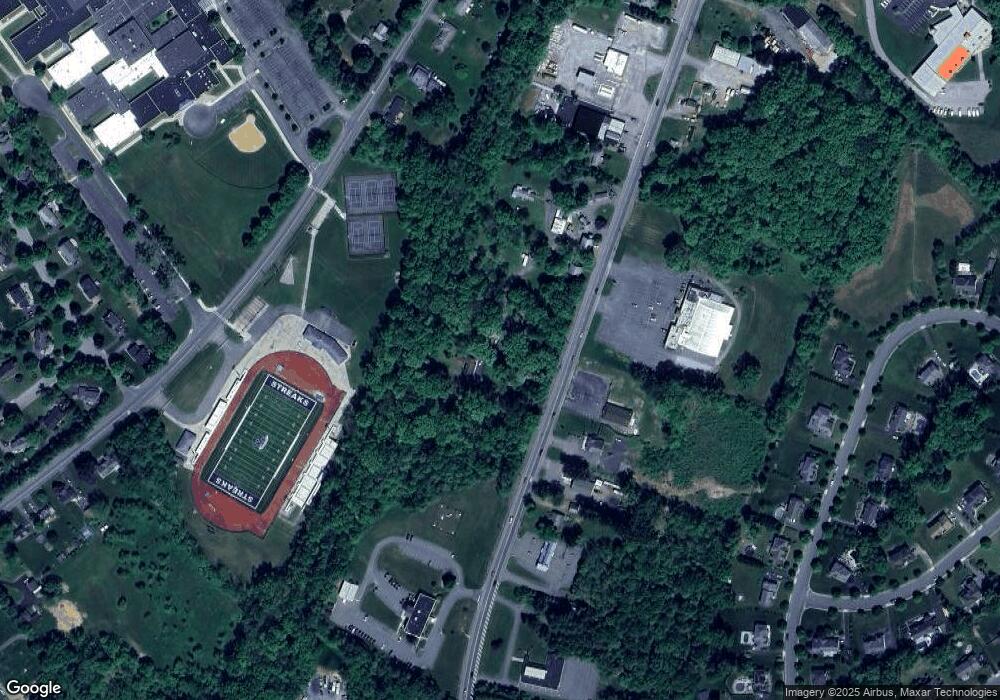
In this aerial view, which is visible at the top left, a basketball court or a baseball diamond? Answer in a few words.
baseball diamond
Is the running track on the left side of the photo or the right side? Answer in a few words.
left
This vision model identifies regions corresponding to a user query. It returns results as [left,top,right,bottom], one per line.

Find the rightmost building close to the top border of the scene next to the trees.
[913,4,993,97]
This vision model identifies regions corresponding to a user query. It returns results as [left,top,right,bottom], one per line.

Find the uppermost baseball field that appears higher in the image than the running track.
[229,114,266,154]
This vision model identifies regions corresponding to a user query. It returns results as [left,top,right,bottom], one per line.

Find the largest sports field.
[201,370,323,513]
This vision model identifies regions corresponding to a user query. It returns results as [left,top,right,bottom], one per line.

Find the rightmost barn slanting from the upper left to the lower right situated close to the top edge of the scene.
[783,6,833,54]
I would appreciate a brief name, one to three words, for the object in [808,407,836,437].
house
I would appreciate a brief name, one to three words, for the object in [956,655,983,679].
house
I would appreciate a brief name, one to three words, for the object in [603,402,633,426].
building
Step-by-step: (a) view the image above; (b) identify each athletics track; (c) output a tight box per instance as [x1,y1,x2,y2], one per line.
[192,350,344,537]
